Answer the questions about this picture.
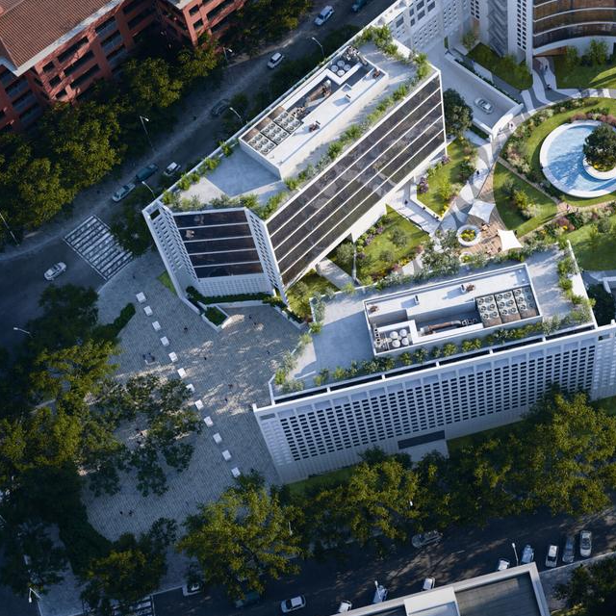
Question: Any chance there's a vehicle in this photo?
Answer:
Yes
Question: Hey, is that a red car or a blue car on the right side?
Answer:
blue car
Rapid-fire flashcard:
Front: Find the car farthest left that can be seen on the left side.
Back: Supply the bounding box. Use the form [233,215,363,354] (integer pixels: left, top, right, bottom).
[39,261,70,282]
